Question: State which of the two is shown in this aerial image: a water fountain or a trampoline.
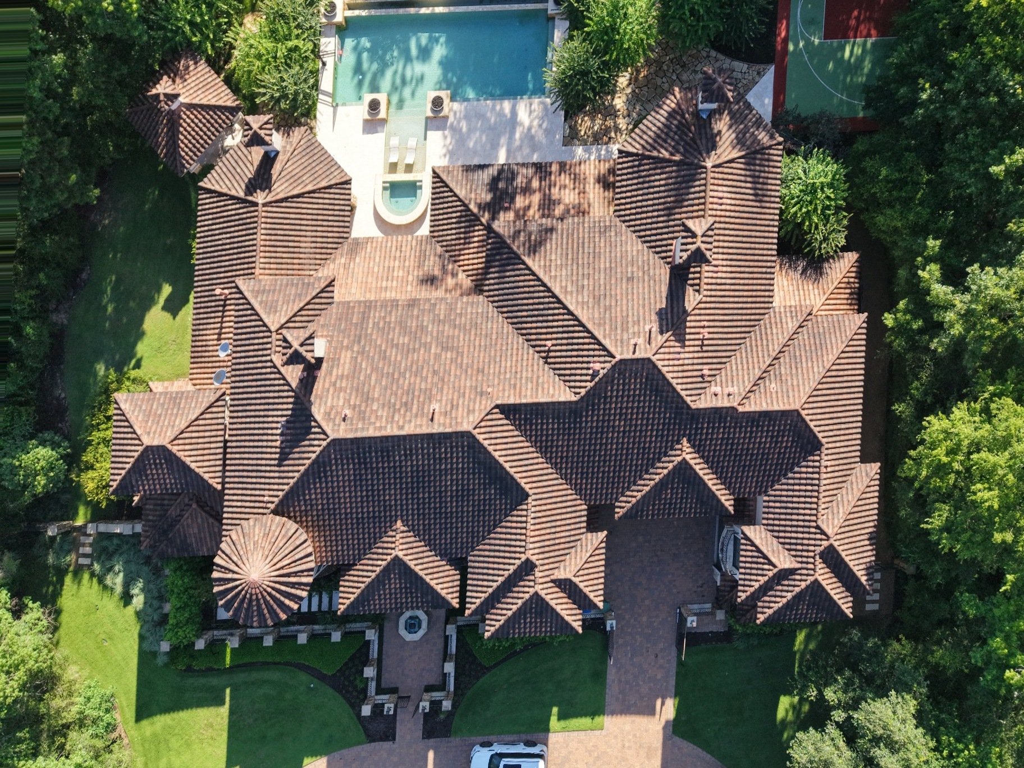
water fountain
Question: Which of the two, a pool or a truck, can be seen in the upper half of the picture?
pool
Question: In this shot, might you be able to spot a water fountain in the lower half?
Yes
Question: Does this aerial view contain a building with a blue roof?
No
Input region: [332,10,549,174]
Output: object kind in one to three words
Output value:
swimming pool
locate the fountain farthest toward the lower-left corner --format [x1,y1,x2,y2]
[398,610,428,641]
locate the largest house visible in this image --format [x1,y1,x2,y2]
[106,64,883,640]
